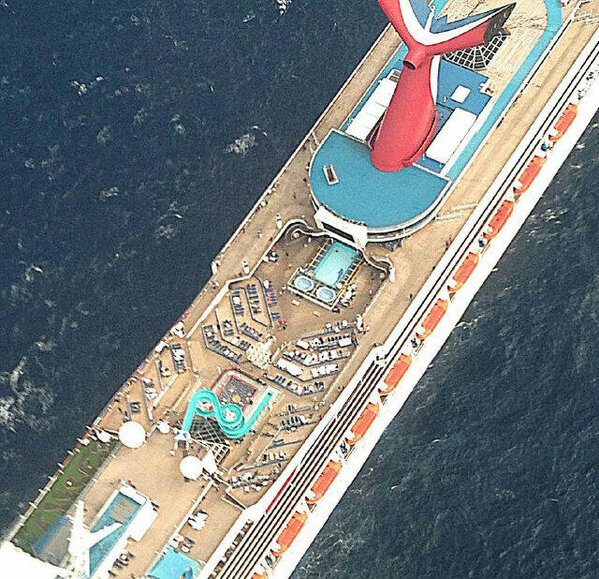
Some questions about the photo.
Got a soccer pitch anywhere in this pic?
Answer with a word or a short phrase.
No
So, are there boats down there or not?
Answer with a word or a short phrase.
Yes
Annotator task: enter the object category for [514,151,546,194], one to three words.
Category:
boat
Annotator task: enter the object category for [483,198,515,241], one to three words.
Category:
boat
